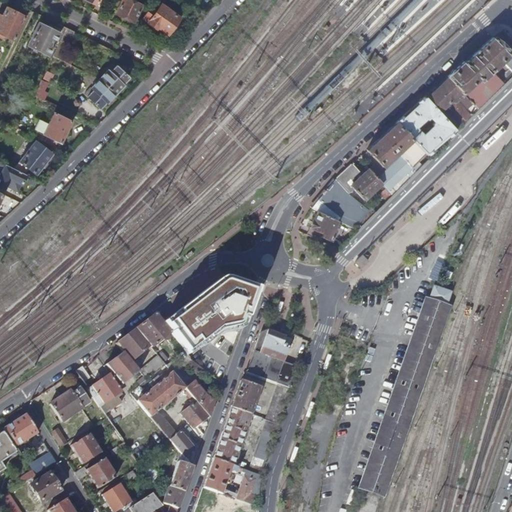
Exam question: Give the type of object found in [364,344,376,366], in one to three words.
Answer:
vehicle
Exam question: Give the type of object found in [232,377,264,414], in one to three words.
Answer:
house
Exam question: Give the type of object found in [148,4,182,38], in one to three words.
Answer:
house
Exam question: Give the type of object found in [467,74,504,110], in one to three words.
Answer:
building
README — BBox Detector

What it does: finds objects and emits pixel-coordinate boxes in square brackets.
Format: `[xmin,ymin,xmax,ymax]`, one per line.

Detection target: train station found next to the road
[302,0,485,120]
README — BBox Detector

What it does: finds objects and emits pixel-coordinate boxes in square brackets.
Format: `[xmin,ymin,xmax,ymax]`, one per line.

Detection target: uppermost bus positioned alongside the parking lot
[483,126,510,152]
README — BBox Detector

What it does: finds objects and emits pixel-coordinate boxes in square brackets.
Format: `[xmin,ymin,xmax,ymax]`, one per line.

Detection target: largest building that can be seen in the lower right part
[359,297,452,497]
